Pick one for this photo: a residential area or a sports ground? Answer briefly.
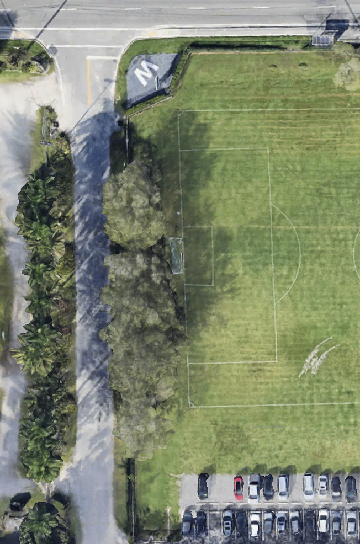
sports ground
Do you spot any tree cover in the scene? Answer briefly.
Yes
